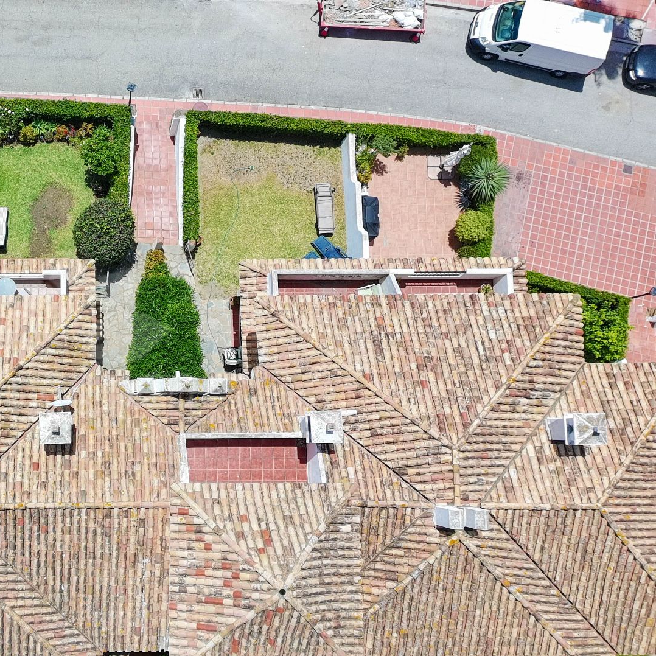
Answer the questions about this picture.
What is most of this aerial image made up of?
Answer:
buildings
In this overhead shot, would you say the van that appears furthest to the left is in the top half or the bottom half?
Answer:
top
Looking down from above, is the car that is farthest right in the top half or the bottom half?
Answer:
top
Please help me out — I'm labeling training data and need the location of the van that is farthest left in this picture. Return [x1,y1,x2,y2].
[454,0,612,81]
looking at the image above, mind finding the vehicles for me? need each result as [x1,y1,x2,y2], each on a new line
[618,50,656,102]
[454,0,612,81]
